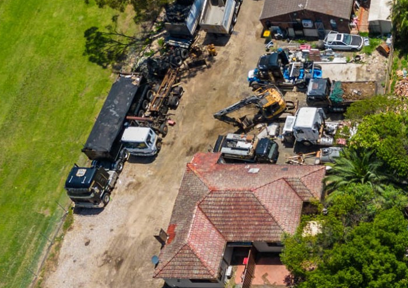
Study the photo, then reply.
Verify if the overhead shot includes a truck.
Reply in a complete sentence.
Yes, I can see a truck in this picture.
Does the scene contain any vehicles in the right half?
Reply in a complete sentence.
Yes, a vehicle shows up in the right half.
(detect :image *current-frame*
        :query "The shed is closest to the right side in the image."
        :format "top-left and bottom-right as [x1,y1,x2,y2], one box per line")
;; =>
[363,0,394,38]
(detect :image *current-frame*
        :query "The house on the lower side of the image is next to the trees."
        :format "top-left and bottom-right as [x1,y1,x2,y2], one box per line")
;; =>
[153,152,327,285]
